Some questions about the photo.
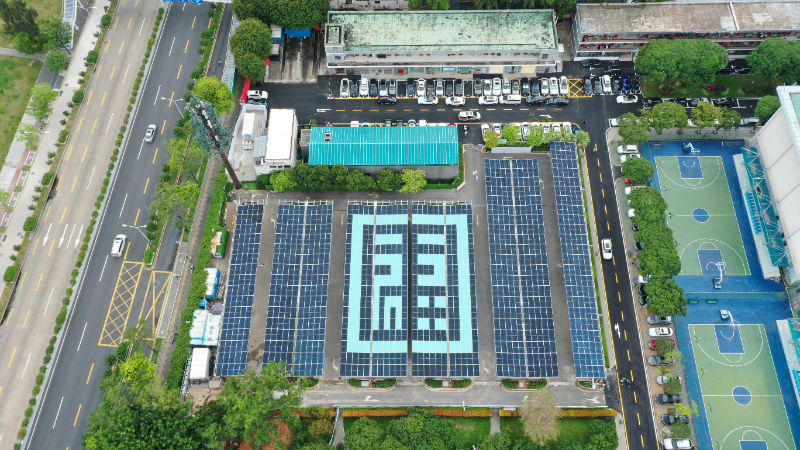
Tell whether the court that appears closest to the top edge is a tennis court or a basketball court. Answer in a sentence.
From above, the court that appears closest to the top edge can be identified as a basketball court.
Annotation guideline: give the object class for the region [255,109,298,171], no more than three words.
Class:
house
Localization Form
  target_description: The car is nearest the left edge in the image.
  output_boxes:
[112,235,126,255]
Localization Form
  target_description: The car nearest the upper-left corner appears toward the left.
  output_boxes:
[145,124,157,142]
